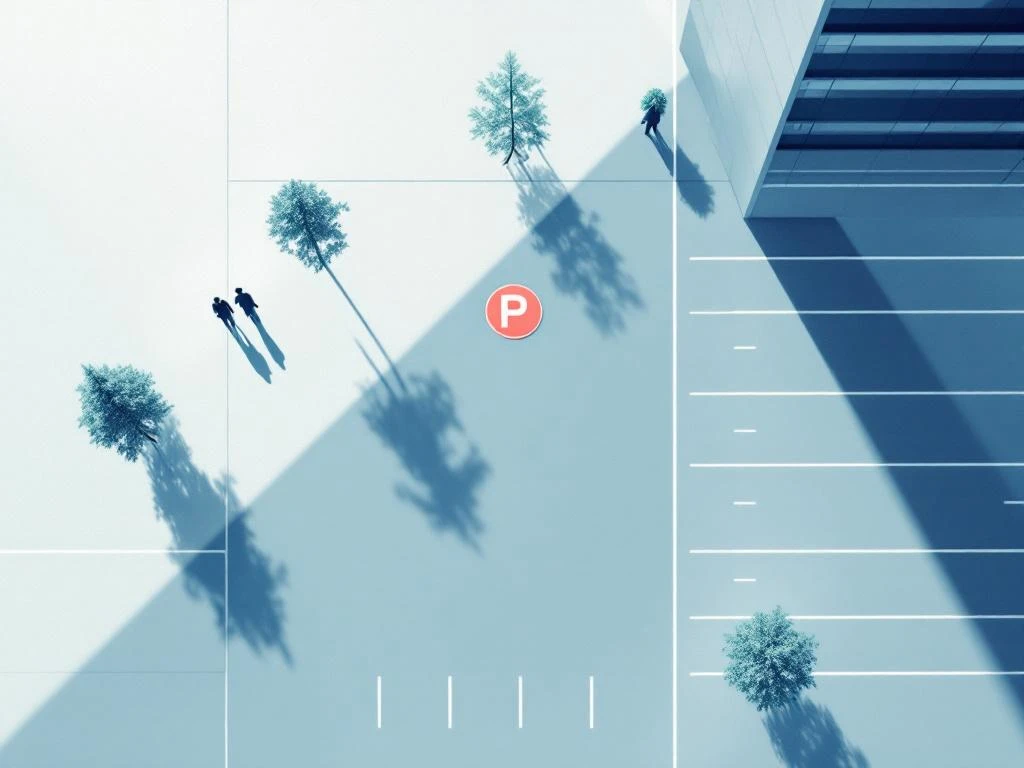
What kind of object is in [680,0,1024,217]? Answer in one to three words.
building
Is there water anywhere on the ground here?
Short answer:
No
